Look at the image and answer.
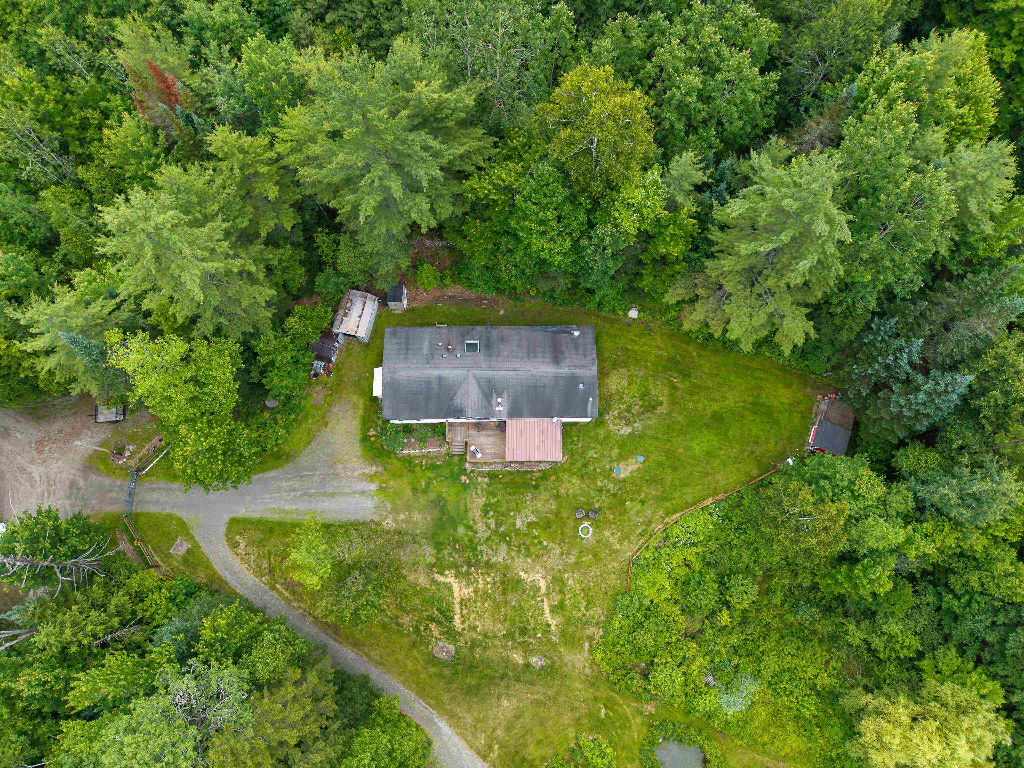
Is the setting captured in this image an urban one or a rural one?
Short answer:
rural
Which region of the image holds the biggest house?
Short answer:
center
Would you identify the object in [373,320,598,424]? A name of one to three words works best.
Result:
house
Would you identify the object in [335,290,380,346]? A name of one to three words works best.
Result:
shed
